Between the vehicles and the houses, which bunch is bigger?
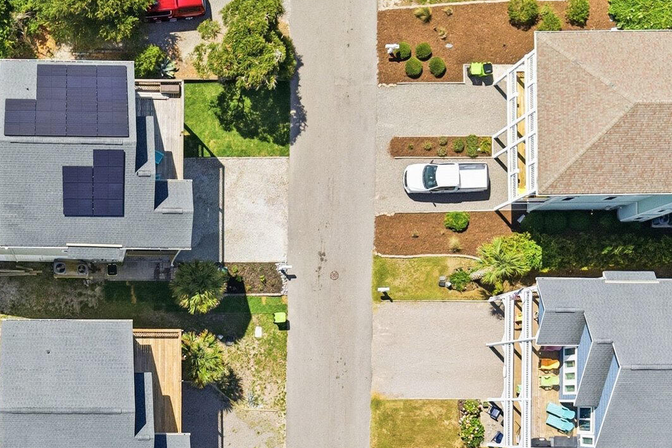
houses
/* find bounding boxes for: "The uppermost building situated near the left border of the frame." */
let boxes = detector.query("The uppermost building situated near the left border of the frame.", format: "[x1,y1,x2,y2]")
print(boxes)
[0,58,193,263]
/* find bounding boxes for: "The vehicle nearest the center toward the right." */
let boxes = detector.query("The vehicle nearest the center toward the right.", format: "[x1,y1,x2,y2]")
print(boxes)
[399,158,490,197]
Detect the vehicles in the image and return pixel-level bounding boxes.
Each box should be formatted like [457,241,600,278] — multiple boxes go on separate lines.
[399,158,490,197]
[124,0,209,24]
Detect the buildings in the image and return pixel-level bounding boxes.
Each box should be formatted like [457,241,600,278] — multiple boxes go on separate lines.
[0,58,193,263]
[487,270,672,448]
[0,319,191,448]
[491,30,672,225]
